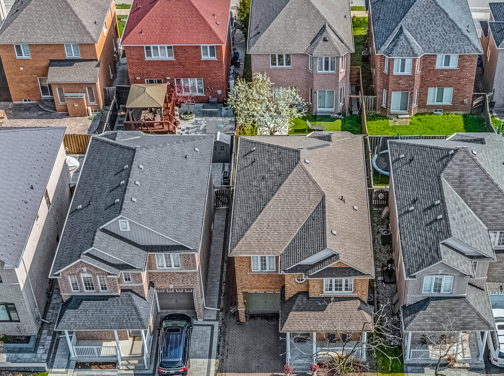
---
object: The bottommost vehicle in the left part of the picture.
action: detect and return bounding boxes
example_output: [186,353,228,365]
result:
[155,318,195,376]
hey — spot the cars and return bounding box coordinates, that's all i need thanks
[155,318,195,376]
[483,312,504,371]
